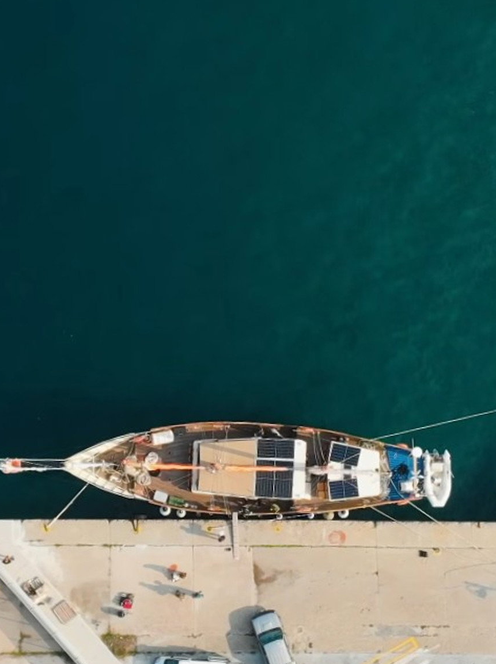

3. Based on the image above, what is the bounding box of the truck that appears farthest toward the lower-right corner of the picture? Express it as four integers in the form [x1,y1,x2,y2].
[251,605,295,664]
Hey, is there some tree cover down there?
No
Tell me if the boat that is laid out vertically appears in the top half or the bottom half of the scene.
bottom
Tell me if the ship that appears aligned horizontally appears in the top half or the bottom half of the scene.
bottom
